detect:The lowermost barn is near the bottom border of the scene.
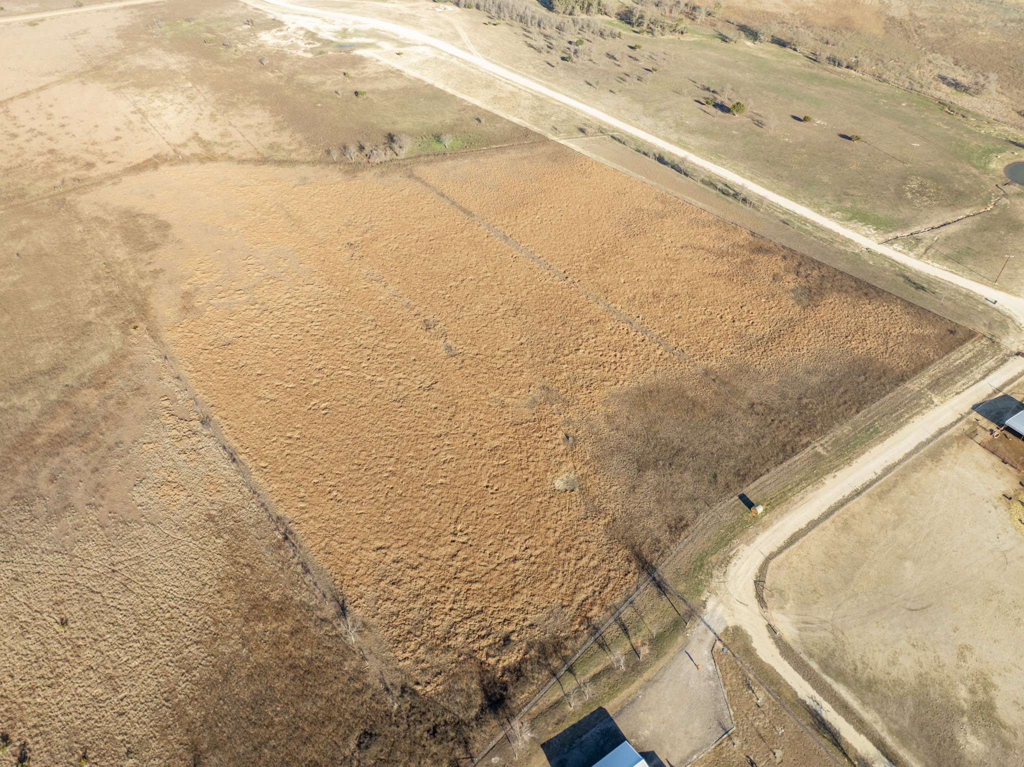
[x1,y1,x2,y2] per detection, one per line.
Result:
[587,738,650,767]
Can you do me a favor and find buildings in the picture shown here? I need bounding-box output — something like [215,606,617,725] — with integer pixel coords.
[587,738,650,767]
[1000,413,1024,433]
